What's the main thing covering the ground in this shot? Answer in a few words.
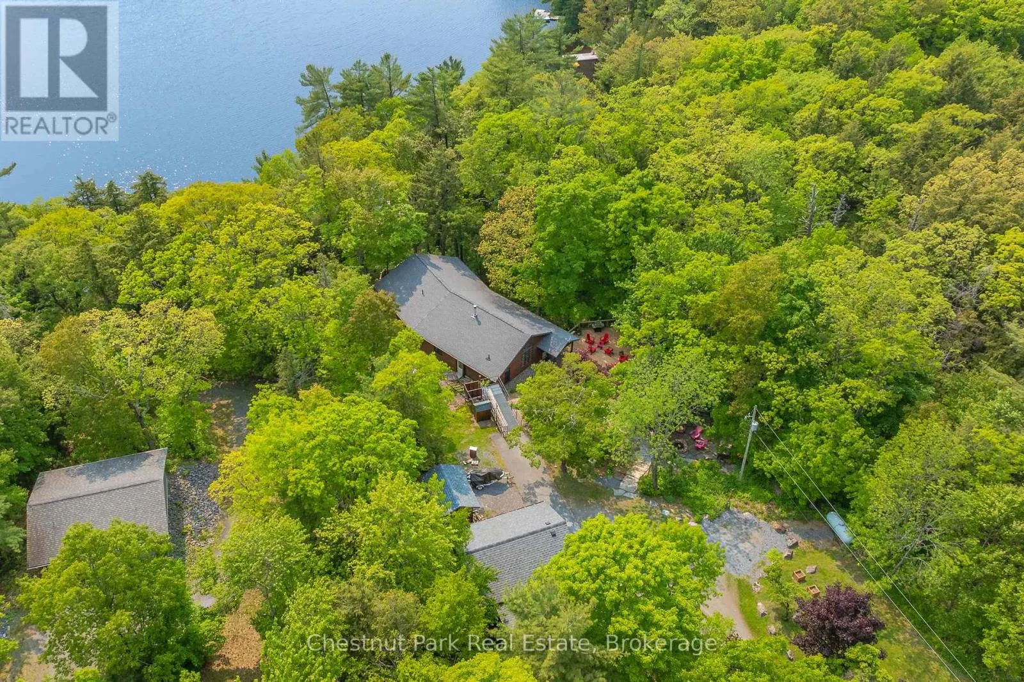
trees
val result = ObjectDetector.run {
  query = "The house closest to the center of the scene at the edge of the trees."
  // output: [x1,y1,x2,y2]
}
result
[374,252,583,398]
